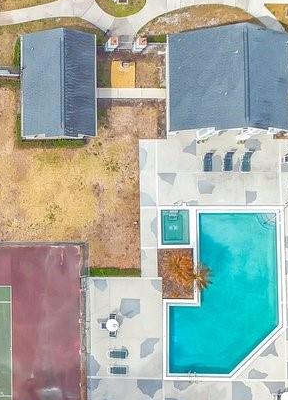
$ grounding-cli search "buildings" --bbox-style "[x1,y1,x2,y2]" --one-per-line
[20,28,98,138]
[165,23,288,132]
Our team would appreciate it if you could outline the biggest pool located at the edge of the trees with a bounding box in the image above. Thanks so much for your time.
[163,204,287,384]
